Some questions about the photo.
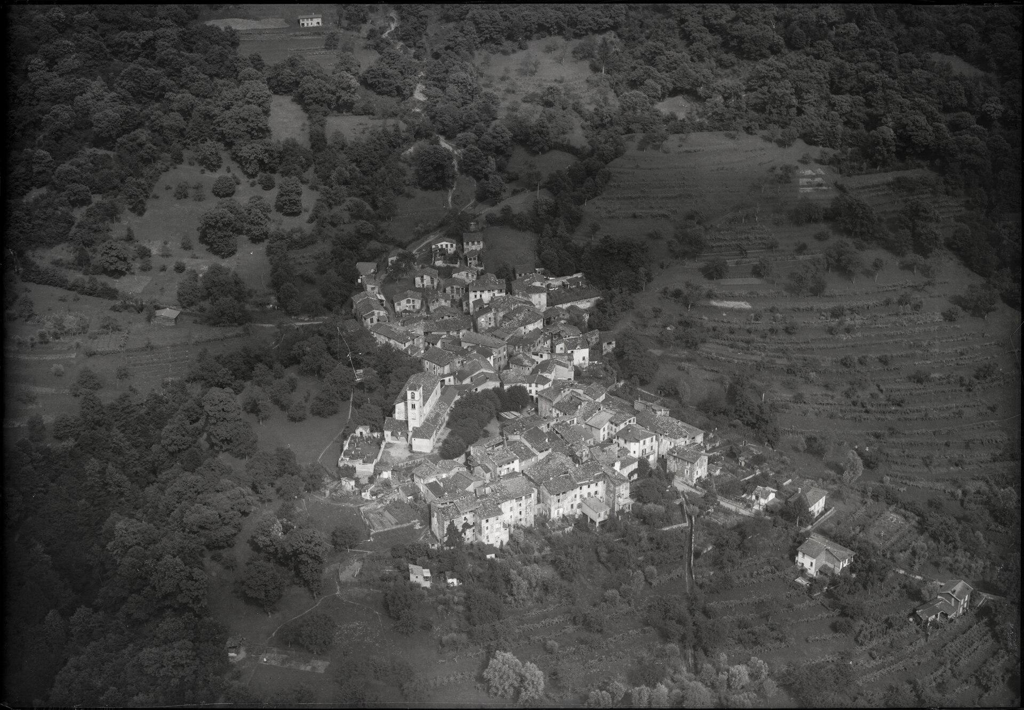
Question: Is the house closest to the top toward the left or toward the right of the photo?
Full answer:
The house closest to the top sits on the left side.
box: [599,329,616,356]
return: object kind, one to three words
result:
barn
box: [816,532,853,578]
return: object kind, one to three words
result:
house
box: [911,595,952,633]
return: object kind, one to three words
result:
house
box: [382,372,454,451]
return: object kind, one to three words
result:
building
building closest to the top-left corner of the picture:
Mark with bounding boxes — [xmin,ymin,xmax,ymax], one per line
[298,10,322,30]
